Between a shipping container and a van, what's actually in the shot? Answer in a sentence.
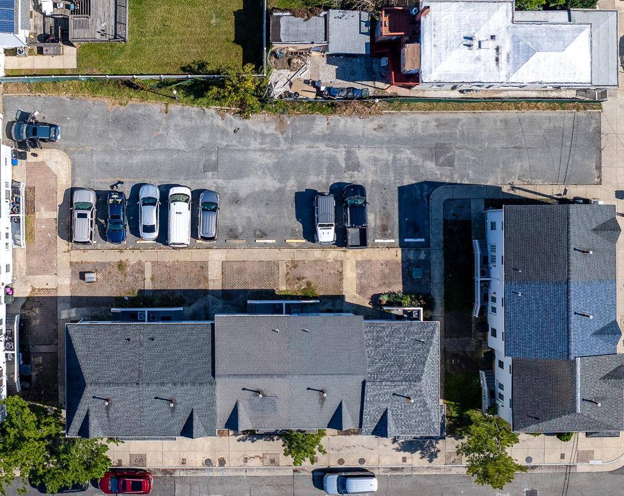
There is a van in the scene.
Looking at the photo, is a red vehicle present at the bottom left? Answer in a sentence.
Yes, looking at the bottom left, one can make out a red vehicle.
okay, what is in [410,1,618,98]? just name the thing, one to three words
house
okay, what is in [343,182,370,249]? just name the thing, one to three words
truck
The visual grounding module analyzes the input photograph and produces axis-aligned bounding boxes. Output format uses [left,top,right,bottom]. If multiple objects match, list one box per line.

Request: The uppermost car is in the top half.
[9,110,65,153]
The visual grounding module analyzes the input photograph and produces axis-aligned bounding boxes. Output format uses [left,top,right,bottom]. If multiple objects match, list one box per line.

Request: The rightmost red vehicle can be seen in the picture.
[100,468,154,496]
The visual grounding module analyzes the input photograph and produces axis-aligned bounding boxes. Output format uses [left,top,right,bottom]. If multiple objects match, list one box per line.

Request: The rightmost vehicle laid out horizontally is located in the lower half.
[323,469,378,496]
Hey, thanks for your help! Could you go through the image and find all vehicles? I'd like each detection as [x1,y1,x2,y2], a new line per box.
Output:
[323,469,378,496]
[100,468,154,496]
[137,185,162,240]
[9,110,65,153]
[104,190,130,246]
[69,189,97,243]
[194,189,221,243]
[312,194,338,244]
[165,185,193,249]
[343,182,370,249]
